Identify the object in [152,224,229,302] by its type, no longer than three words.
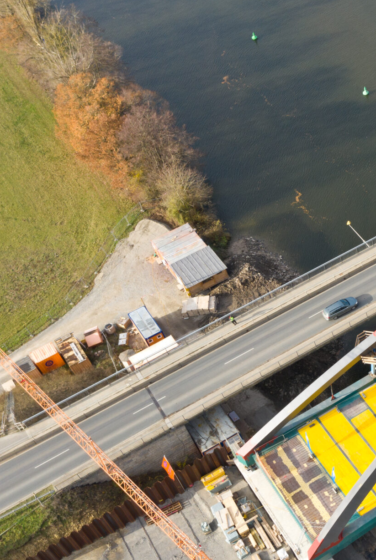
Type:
shed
